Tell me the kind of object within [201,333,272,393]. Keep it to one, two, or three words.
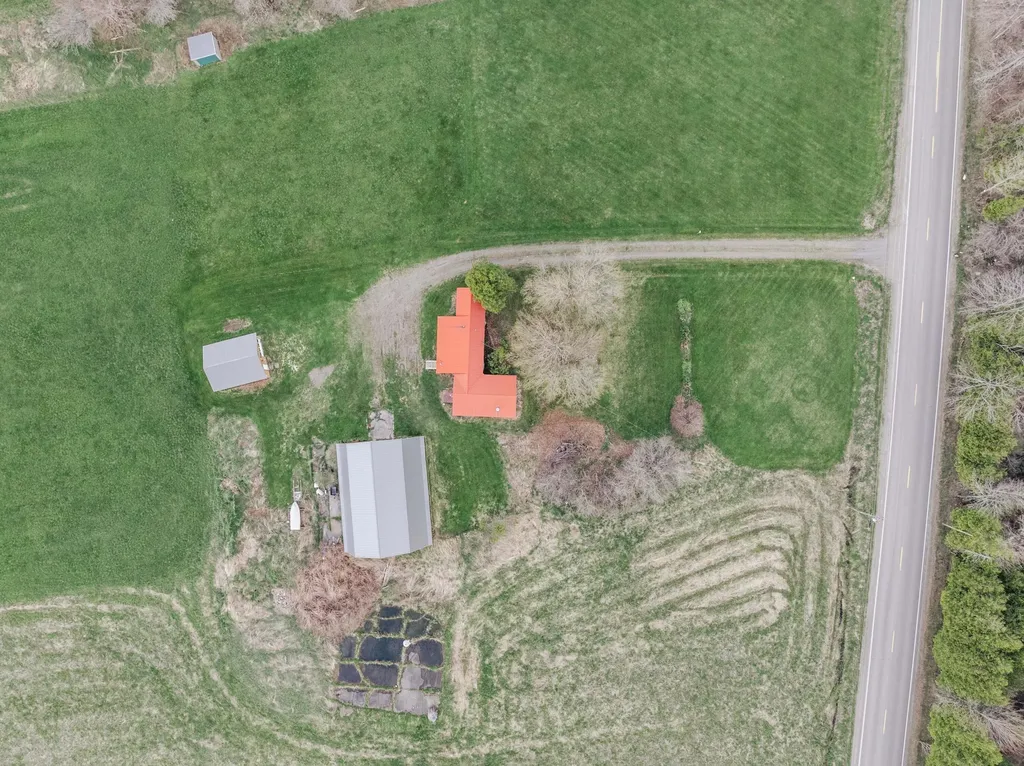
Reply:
building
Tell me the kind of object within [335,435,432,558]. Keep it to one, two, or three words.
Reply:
barn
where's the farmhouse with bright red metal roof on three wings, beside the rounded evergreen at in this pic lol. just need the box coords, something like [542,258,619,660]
[436,287,517,417]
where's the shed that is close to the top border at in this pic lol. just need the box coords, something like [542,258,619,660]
[187,32,222,67]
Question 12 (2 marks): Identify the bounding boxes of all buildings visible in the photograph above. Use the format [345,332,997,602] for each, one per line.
[201,333,272,393]
[436,287,517,417]
[335,435,432,558]
[187,32,222,67]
